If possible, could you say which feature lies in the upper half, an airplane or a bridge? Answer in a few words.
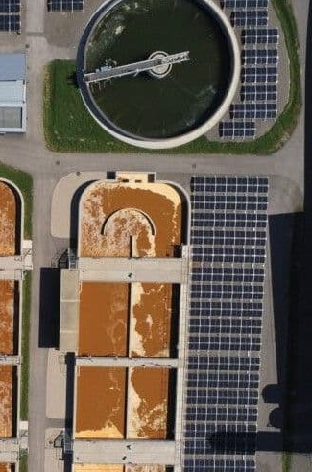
bridge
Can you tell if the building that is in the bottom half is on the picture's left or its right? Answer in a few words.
left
